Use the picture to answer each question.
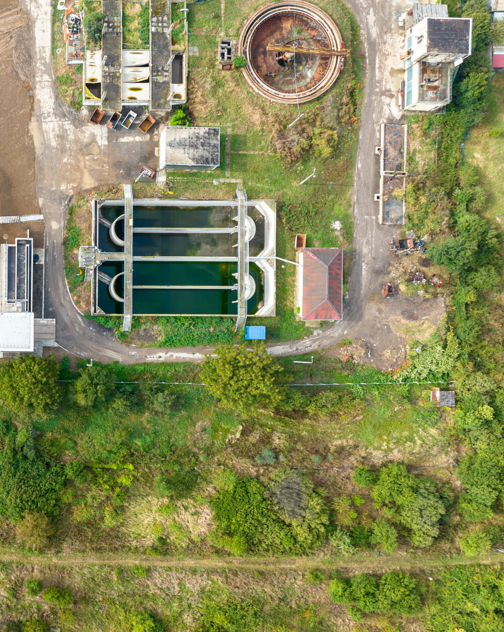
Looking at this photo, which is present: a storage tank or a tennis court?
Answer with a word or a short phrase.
storage tank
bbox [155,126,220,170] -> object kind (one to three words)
building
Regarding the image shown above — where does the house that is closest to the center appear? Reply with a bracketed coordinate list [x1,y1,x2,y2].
[297,248,343,327]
